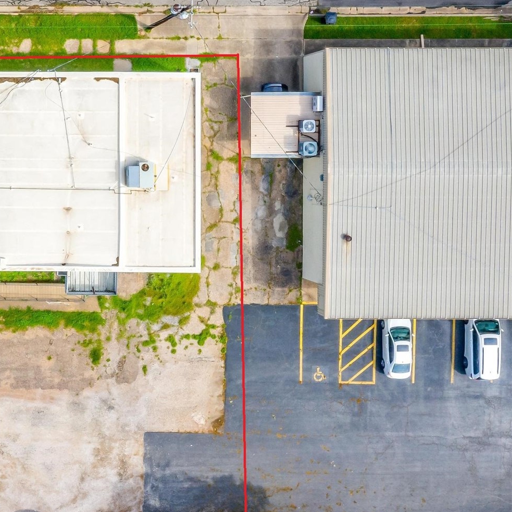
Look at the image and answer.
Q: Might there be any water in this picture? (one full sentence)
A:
No, the scene doesn't show any water.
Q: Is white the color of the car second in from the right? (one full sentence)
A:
Yes, white is the color of the car second in from the right.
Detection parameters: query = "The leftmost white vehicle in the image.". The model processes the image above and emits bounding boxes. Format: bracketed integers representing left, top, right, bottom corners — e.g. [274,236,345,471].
[379,321,417,379]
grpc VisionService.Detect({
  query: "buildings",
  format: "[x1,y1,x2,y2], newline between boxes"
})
[305,39,512,321]
[0,67,200,296]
